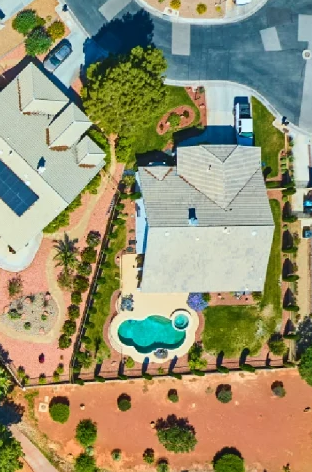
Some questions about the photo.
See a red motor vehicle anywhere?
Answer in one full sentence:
No, the picture doesn't show any red motor vehicle.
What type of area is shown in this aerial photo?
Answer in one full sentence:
This image shows a residential area.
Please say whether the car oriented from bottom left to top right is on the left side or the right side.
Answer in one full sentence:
You can find the car oriented from bottom left to top right on the left side of the picture.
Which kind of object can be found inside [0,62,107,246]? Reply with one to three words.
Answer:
house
